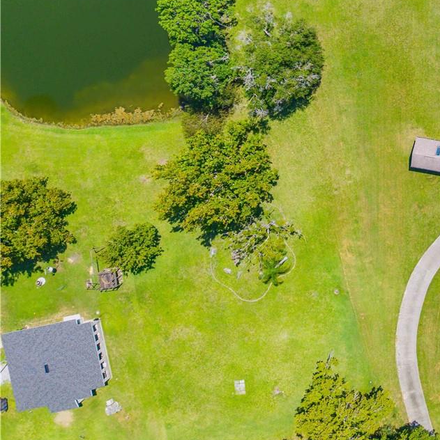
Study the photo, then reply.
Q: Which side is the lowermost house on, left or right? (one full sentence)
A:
The lowermost house sits on the left side.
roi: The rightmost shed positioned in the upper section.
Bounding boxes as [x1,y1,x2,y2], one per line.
[411,138,440,171]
